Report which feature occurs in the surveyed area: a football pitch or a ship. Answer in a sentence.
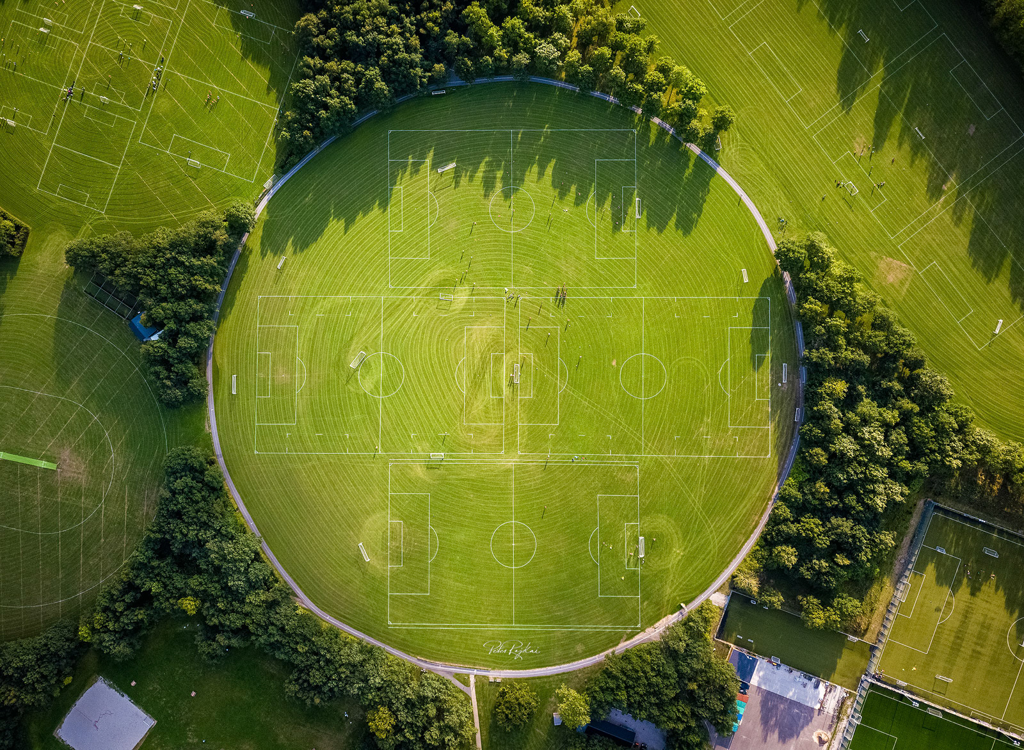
There is a football pitch in the scene.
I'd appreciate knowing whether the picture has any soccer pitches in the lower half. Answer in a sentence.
Yes, looking in the lower half, one can make out a soccer pitch.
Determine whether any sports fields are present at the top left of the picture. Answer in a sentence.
Yes, a sports field can be seen at the top left of the picture.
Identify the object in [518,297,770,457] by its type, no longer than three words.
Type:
soccer field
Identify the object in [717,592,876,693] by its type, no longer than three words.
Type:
soccer field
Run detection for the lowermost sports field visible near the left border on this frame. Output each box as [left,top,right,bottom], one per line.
[0,257,173,639]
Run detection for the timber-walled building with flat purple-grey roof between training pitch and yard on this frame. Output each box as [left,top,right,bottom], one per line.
[723,646,759,683]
